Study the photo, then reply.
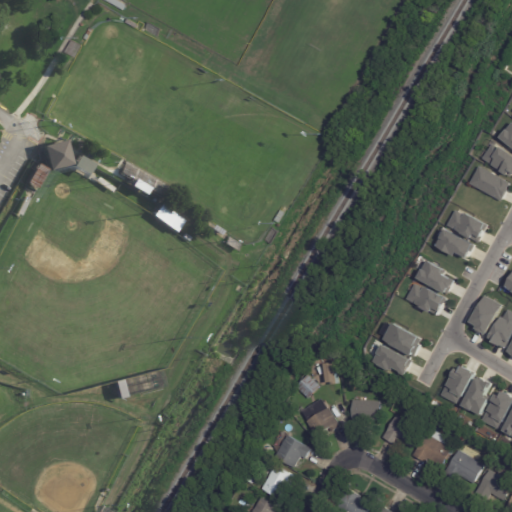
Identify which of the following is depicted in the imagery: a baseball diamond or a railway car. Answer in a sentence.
I can see a baseball diamond in this picture.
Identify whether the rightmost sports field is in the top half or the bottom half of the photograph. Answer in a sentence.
The rightmost sports field sits in the top half of the picture.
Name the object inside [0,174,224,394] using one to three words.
baseball field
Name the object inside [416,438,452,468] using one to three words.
house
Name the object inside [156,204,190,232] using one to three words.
building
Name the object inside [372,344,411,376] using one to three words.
house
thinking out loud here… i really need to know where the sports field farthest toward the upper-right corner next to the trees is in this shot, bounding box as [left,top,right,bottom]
[236,0,400,130]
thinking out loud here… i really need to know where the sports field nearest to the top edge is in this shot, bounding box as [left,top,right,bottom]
[128,0,273,64]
